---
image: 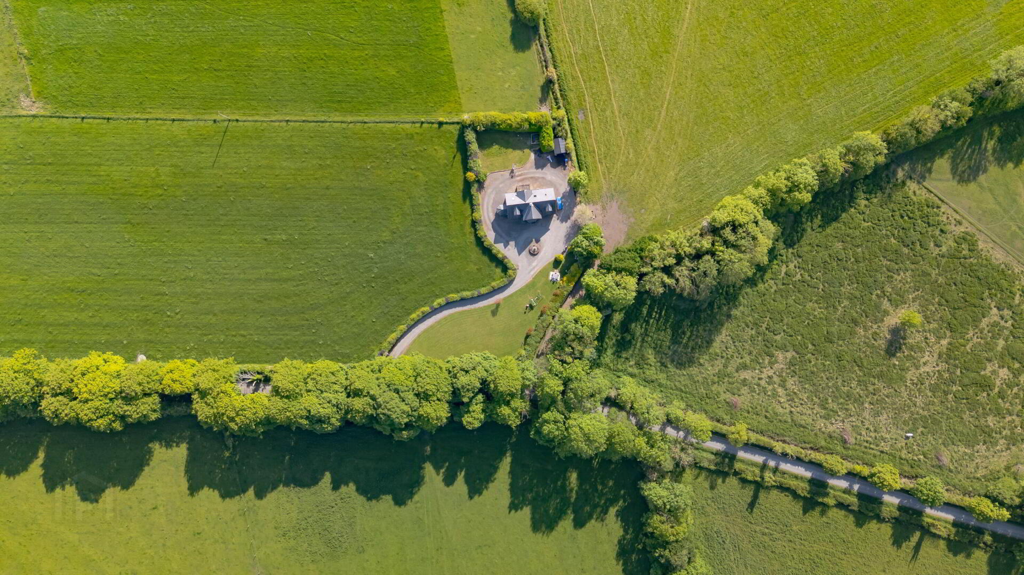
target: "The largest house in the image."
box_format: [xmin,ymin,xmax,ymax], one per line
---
[496,187,559,223]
